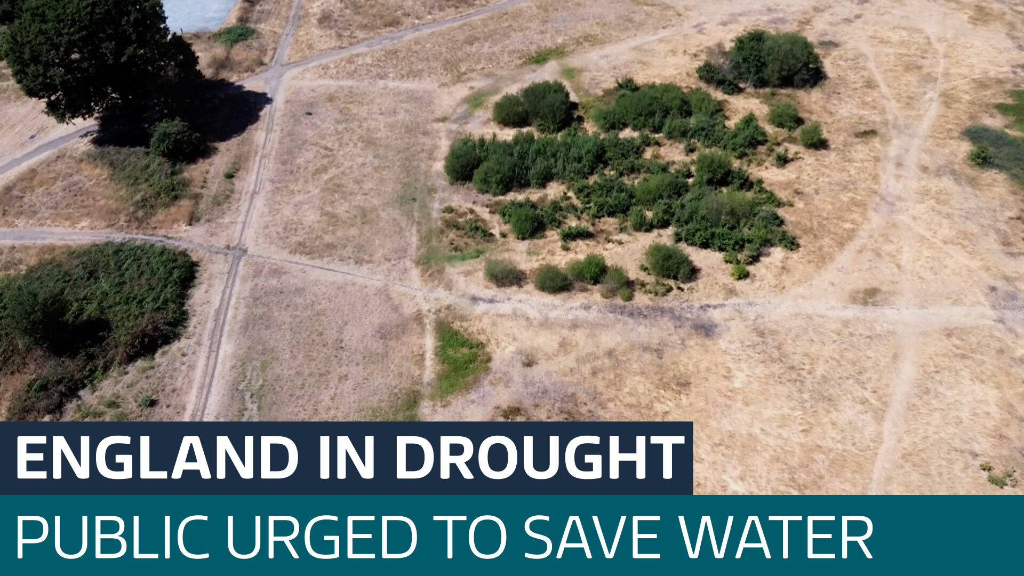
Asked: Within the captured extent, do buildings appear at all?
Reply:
No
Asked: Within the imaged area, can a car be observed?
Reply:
No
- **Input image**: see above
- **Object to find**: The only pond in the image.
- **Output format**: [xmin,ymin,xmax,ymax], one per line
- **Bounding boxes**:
[70,0,236,37]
